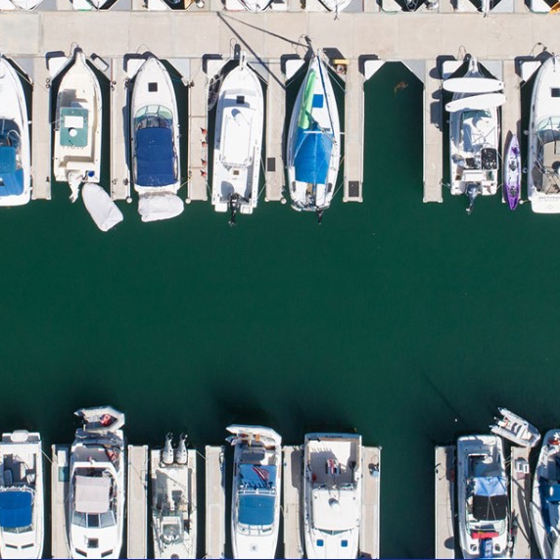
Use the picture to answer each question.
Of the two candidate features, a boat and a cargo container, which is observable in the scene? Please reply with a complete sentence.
This aerial view contains a boat.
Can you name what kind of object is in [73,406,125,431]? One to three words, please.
boat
